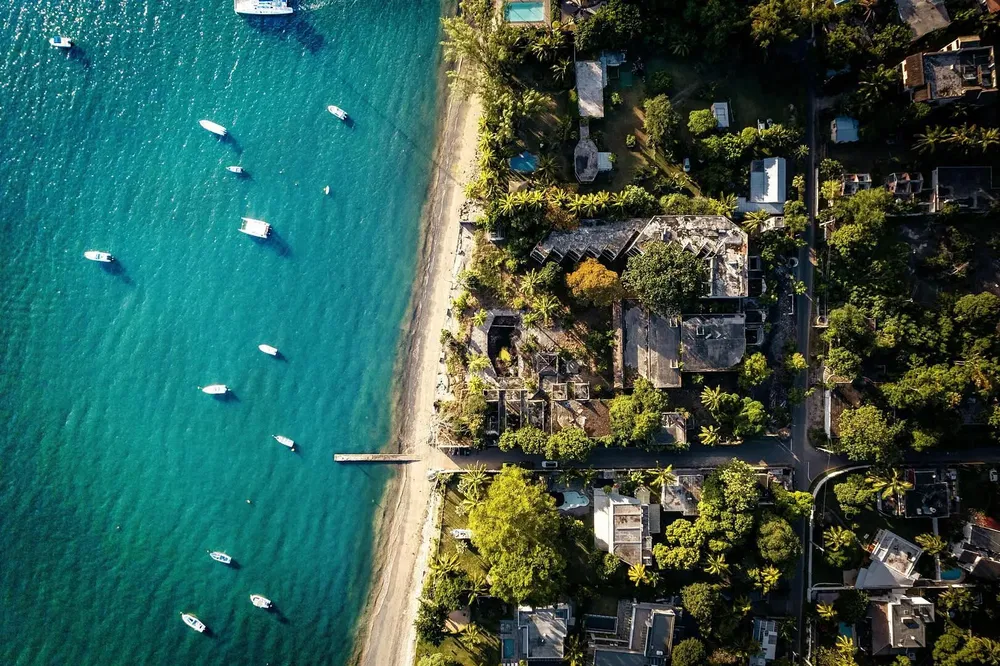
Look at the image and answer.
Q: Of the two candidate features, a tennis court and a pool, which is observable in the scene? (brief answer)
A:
pool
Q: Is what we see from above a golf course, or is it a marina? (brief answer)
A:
marina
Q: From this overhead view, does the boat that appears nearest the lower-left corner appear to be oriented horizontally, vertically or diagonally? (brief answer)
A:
diagonally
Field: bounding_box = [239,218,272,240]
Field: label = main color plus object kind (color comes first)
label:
white boat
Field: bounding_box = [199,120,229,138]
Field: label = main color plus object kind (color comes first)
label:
white boat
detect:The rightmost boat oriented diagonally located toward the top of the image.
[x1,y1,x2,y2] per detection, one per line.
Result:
[328,105,350,121]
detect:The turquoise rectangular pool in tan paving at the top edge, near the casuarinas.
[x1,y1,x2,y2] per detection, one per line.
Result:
[497,0,552,27]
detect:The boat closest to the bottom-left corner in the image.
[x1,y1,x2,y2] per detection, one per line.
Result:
[182,612,207,634]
